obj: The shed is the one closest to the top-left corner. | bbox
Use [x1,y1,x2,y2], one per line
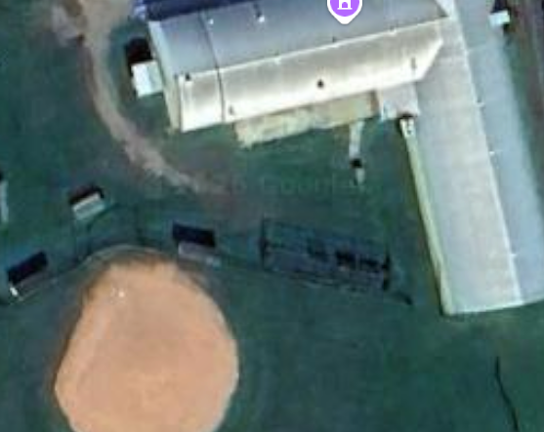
[125,57,165,97]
